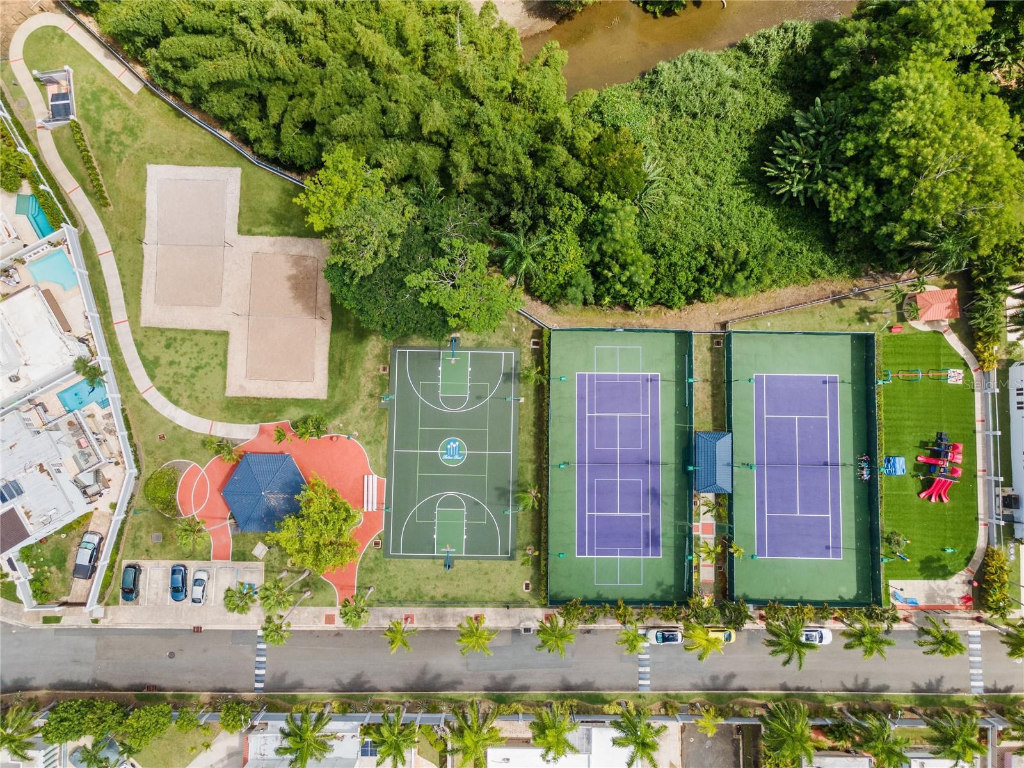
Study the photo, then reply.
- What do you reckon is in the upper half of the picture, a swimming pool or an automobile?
swimming pool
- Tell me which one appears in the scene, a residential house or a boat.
residential house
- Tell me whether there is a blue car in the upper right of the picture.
No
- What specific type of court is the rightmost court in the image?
tennis court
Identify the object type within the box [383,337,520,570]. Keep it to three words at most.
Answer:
basketball court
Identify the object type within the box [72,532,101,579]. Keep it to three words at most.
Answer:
truck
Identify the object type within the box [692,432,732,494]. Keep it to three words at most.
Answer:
building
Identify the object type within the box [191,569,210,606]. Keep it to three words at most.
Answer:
car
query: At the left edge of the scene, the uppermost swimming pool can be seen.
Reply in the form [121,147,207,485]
[14,193,54,239]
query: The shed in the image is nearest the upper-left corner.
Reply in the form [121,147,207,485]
[36,63,77,127]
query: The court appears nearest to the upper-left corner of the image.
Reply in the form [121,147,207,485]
[141,164,241,329]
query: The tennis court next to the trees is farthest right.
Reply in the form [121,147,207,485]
[725,334,872,602]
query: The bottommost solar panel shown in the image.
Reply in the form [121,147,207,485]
[361,737,377,756]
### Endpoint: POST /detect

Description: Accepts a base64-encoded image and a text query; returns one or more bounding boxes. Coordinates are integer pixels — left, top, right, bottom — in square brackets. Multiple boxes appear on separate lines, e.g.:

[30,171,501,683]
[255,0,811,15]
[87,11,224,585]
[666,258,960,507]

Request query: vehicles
[796,628,831,646]
[698,627,733,646]
[646,627,683,646]
[72,532,101,579]
[169,564,188,601]
[121,565,142,600]
[191,569,210,606]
